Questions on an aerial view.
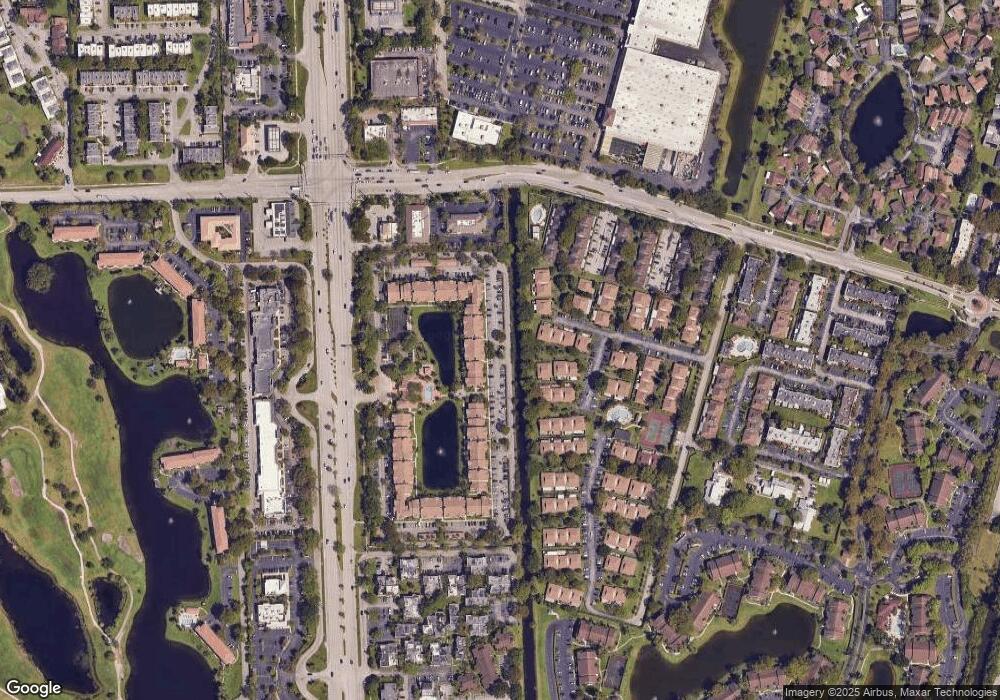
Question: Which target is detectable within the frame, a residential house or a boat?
residential house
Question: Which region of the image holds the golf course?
left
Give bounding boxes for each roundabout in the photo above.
[951,286,1000,322]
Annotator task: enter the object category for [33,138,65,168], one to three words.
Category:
building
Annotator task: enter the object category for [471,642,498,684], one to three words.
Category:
house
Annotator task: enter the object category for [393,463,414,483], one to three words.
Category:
building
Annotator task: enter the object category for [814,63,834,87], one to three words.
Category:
house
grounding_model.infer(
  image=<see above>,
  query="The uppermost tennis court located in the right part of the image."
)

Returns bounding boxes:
[640,409,675,450]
